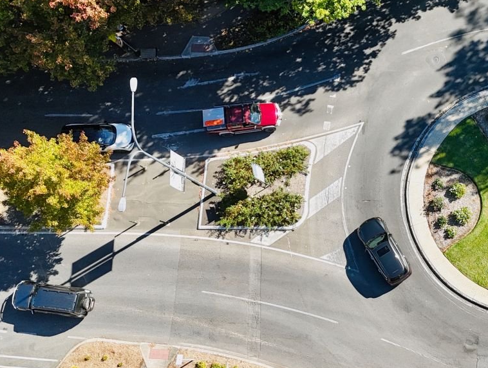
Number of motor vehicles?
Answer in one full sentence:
In total, there are 4 motor vehicles in the scene.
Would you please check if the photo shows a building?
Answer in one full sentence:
No, this view has no building in it.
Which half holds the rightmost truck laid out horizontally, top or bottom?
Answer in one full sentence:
The rightmost truck laid out horizontally sits in the top half of the picture.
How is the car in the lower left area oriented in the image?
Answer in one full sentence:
I'd say the car in the lower left area is aligned from left to right in the picture.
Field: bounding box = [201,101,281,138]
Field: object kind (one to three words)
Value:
truck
